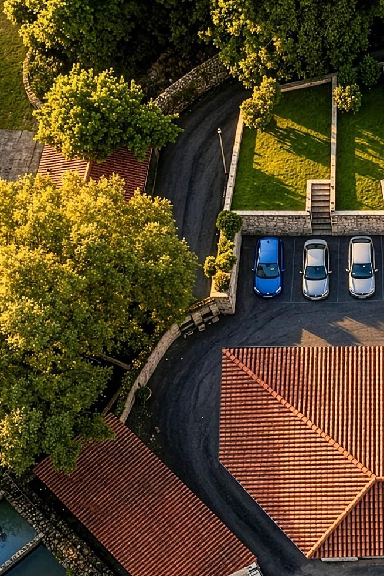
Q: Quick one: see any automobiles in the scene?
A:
Yes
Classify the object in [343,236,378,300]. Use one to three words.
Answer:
car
